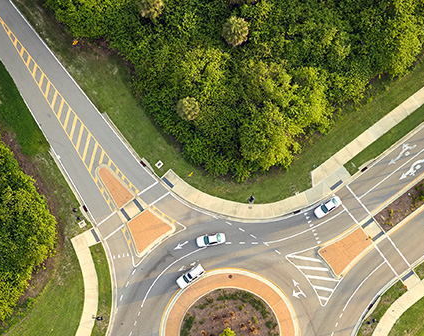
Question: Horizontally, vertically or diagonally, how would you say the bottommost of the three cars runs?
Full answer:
The bottommost of the three cars has been laid out diagonally relative to the frame.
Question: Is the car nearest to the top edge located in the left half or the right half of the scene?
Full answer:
It is on the right.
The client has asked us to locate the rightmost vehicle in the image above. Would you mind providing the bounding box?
[314,196,343,219]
